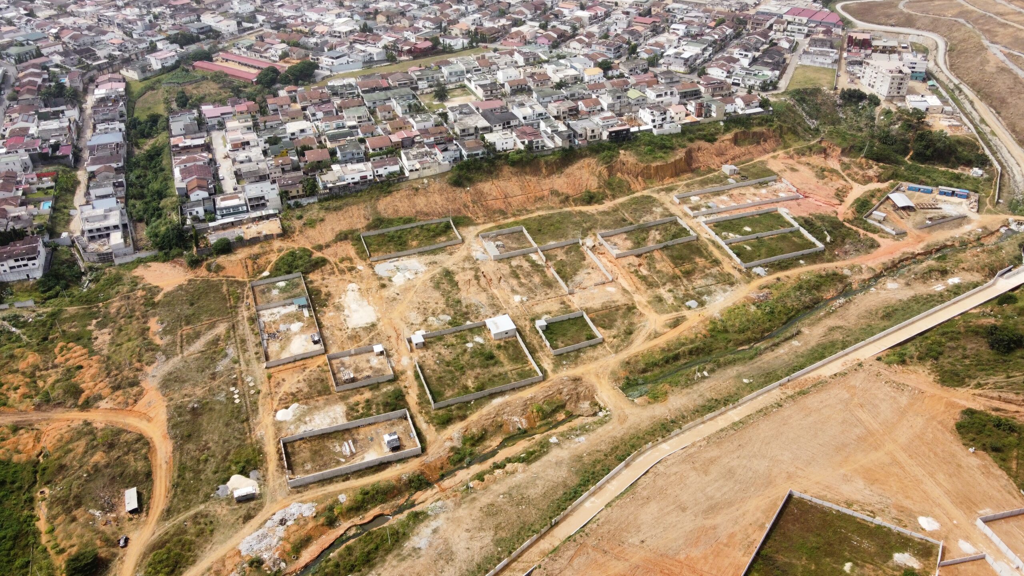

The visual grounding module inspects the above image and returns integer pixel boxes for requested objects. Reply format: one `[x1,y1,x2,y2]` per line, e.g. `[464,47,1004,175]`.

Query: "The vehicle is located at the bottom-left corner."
[114,531,132,549]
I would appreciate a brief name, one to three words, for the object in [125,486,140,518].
shed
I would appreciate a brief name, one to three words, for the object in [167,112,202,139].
house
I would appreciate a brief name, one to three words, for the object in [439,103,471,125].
house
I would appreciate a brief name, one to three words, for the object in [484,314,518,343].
shed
